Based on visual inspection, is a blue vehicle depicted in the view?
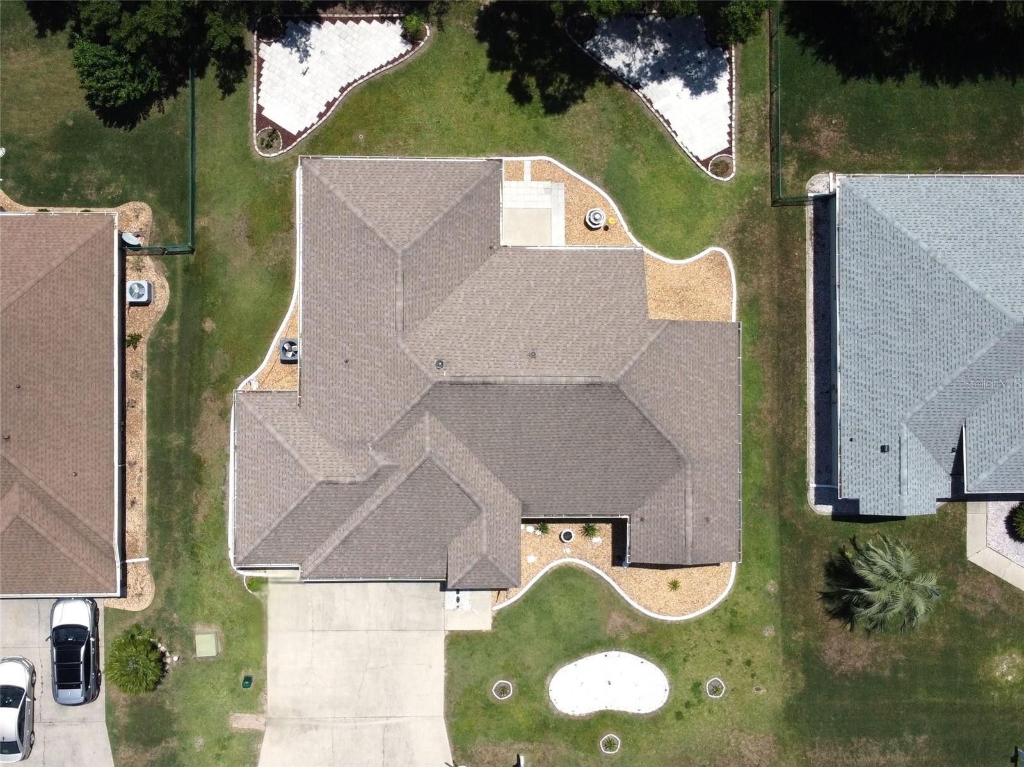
No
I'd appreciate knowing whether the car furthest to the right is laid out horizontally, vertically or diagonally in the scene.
vertically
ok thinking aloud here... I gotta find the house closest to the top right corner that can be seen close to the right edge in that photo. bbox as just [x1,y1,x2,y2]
[811,173,1024,515]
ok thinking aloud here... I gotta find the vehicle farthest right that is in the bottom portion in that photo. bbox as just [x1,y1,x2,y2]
[45,598,101,706]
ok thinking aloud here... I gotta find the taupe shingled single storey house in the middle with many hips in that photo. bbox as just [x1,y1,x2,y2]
[232,156,744,591]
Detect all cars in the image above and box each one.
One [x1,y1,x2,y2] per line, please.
[0,656,37,762]
[45,598,101,706]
